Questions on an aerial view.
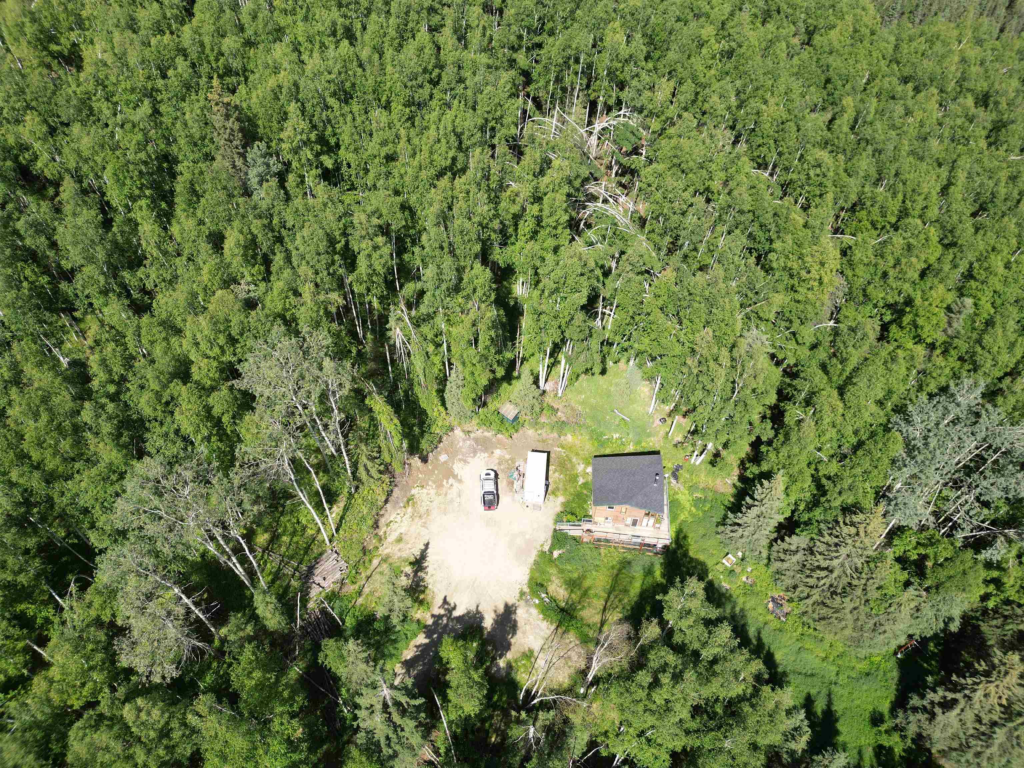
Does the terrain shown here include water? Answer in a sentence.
No, there's no water in this view.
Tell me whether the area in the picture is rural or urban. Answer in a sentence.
From above, the setting appears rural.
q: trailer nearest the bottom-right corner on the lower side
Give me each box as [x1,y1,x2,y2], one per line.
[525,452,548,502]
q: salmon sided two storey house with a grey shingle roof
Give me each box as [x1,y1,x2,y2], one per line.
[592,455,664,529]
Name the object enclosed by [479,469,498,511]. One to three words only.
vehicle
